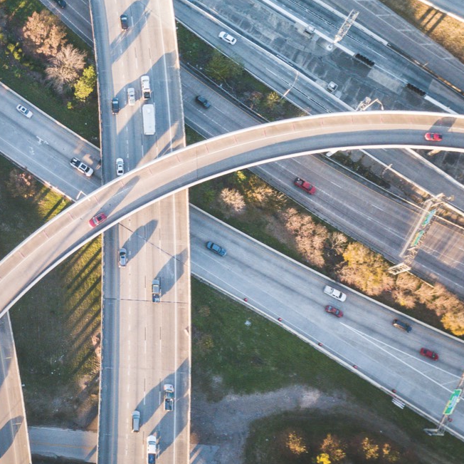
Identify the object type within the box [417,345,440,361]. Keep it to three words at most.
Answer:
car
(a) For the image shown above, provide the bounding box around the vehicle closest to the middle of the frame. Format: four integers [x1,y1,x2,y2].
[205,241,226,256]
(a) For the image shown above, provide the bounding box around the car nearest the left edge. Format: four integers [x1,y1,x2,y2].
[14,102,33,119]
